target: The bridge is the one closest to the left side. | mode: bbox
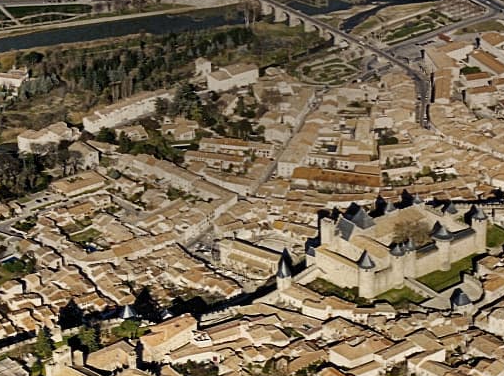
[255,0,413,78]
